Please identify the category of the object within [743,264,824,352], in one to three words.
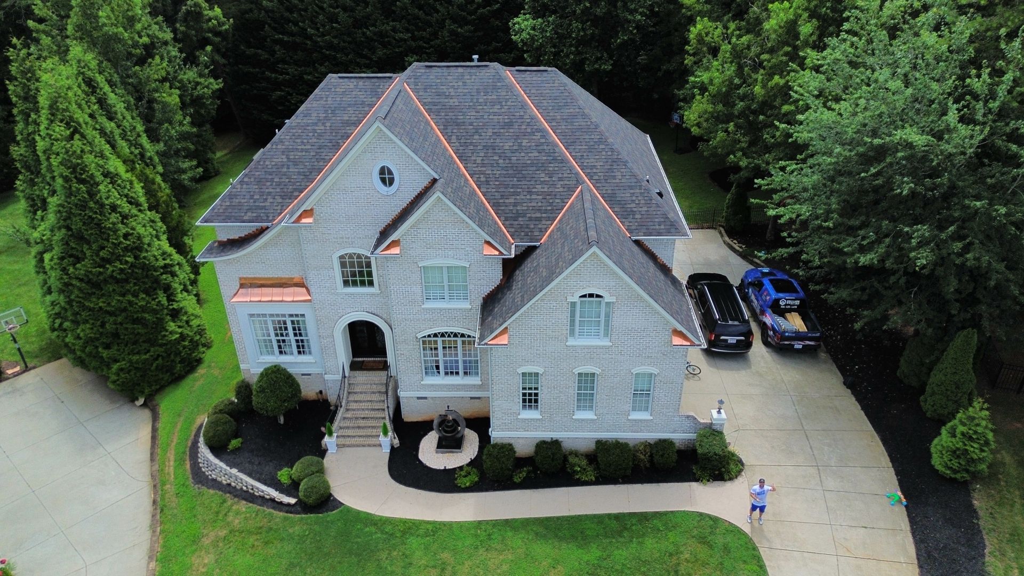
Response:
truck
